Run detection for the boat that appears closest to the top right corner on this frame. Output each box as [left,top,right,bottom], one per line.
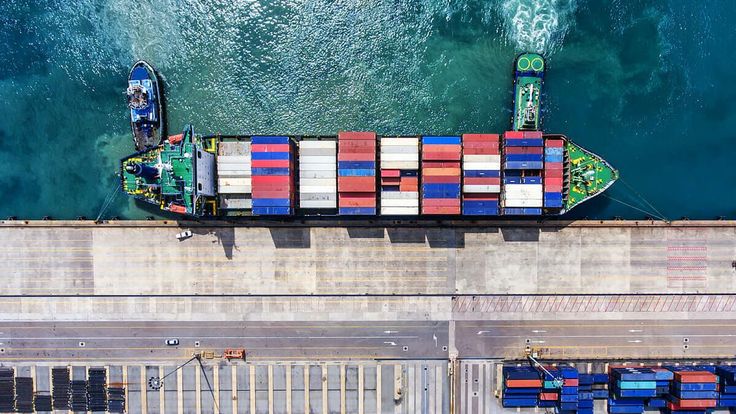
[511,50,548,130]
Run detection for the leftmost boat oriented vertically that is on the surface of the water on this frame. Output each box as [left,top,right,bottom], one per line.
[126,60,166,150]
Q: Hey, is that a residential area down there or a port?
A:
port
